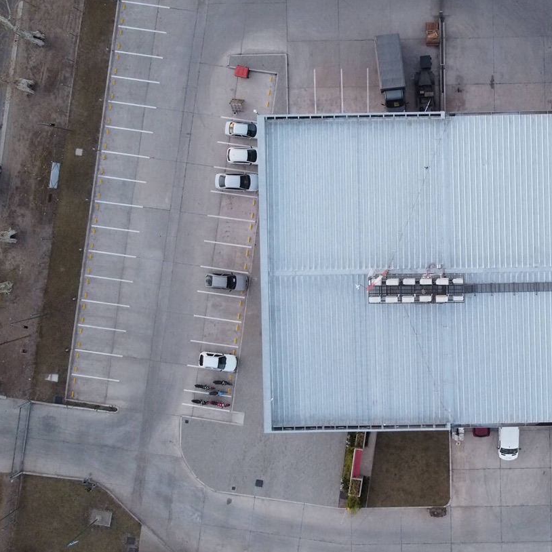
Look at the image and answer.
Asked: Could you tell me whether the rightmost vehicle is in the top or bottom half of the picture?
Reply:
bottom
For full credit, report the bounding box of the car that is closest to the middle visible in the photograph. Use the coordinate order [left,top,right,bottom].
[203,273,247,293]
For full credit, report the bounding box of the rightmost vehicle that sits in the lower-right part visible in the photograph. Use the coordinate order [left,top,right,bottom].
[499,428,521,461]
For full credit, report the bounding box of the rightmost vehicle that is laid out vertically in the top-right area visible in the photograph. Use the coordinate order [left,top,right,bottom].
[412,51,437,111]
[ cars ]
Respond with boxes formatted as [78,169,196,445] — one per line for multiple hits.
[197,353,236,374]
[222,120,256,140]
[213,172,257,193]
[225,146,257,166]
[473,429,492,439]
[203,273,247,293]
